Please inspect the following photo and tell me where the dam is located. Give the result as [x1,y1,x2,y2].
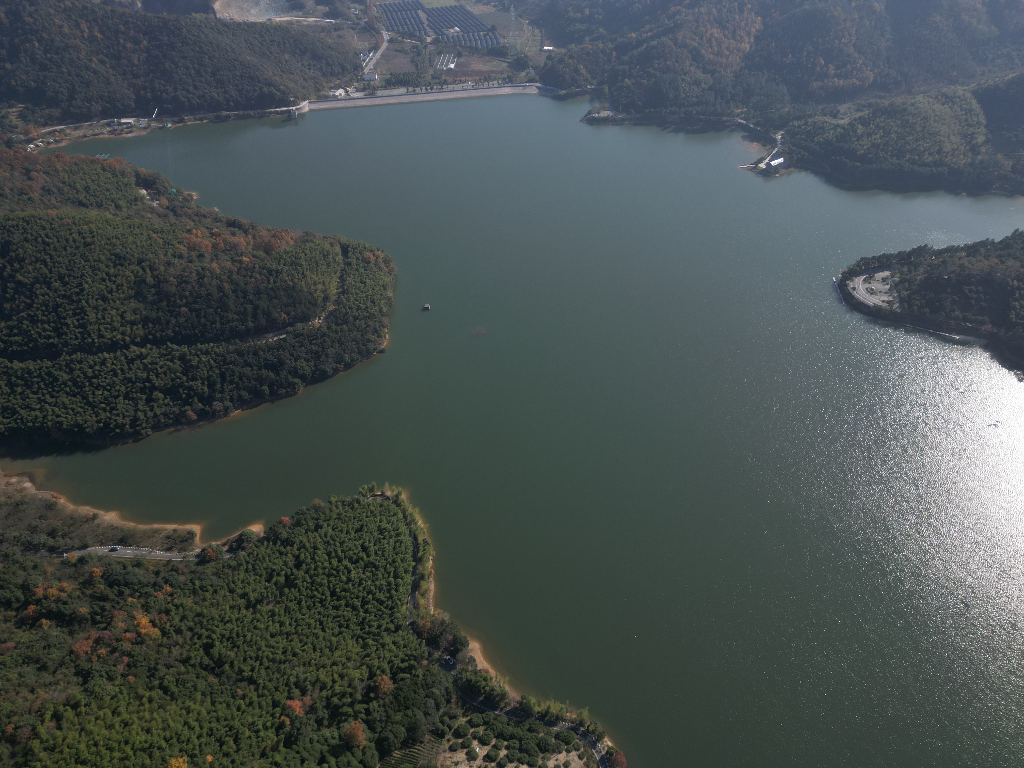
[307,84,535,111]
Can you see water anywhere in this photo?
Yes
